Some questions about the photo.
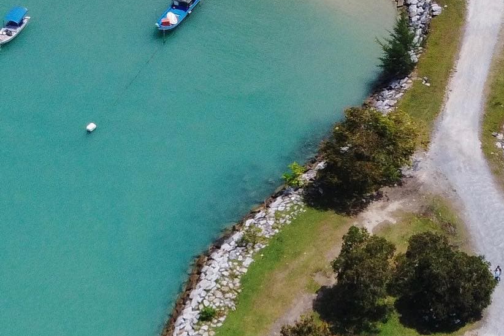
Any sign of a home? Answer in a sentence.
No, no home is visible in the scene.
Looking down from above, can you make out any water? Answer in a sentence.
Yes, water shows up in the scene.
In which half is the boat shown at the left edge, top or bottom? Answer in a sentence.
You can find the boat shown at the left edge in the top half.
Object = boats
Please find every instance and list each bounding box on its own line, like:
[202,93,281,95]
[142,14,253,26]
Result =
[0,3,34,44]
[157,0,205,30]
